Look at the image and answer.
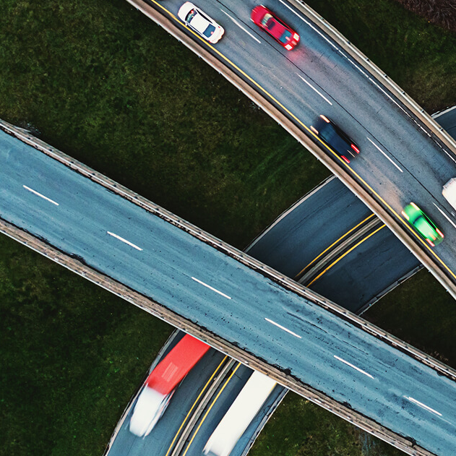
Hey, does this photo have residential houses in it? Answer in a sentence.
No, the scene contains no residential house.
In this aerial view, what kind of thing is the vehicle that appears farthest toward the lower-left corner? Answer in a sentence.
I'd say the vehicle that appears farthest toward the lower-left corner is a truck.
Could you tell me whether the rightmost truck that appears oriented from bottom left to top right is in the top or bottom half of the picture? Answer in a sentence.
The rightmost truck that appears oriented from bottom left to top right sits in the bottom half of the picture.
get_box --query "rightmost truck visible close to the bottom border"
[202,373,276,456]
